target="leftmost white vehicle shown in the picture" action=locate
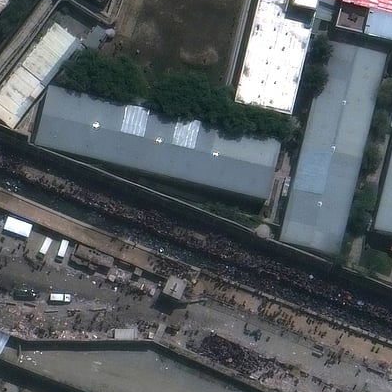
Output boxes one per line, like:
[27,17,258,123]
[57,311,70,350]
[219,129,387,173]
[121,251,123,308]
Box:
[34,236,53,261]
